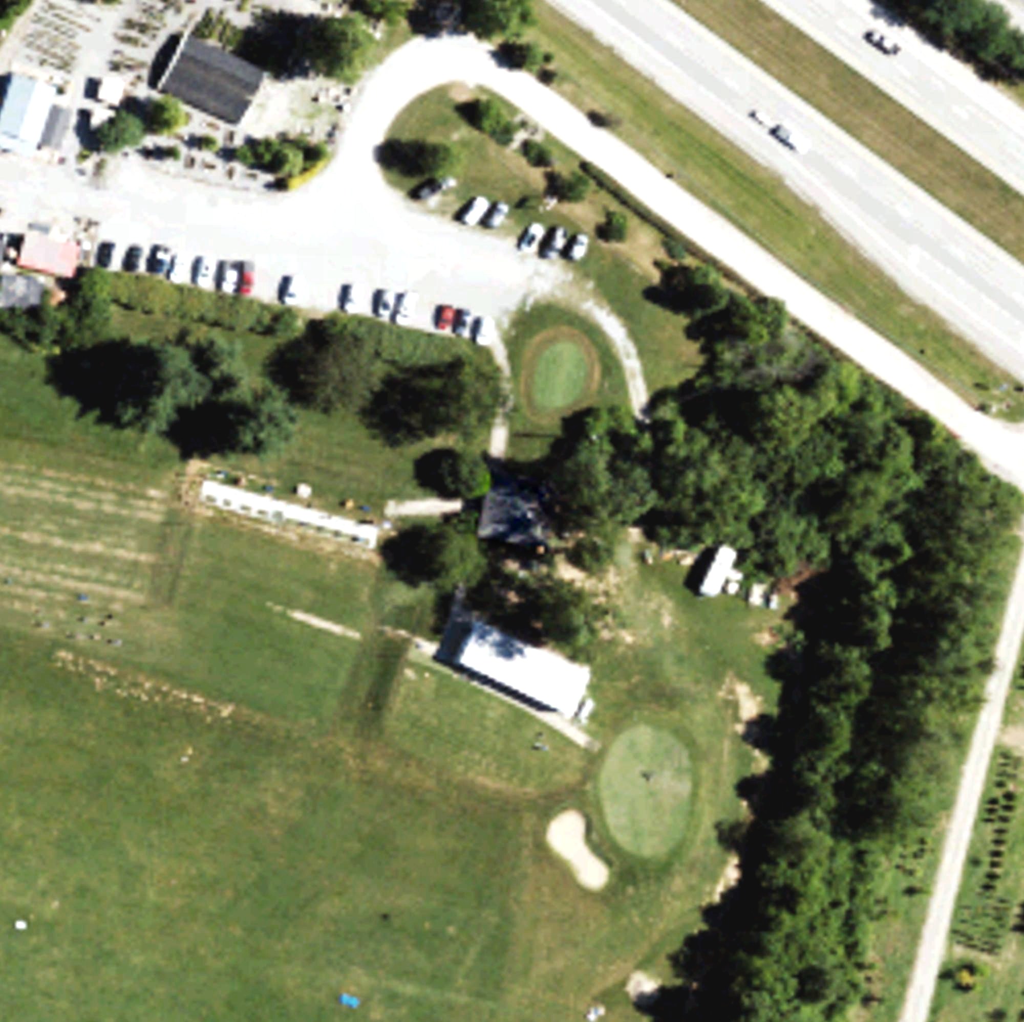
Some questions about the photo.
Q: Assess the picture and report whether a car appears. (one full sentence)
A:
Yes, the photo shows a car.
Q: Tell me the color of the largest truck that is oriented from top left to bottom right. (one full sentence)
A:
In this view, the largest truck that is oriented from top left to bottom right is white.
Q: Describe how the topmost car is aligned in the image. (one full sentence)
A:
What the image shows is the topmost car lying diagonally.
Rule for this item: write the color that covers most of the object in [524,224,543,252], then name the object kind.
white car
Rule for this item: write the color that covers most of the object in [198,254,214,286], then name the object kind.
white vehicle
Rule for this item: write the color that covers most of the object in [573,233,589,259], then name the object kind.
white car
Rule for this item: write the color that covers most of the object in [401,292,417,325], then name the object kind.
white vehicle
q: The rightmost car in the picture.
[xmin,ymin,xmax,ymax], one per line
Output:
[868,30,896,54]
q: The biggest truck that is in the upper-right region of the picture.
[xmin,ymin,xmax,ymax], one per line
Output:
[773,122,814,157]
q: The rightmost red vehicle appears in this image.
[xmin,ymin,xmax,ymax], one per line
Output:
[440,303,455,330]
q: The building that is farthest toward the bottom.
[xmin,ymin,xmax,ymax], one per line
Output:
[460,621,590,715]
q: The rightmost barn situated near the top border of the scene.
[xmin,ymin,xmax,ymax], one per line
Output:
[157,32,264,124]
